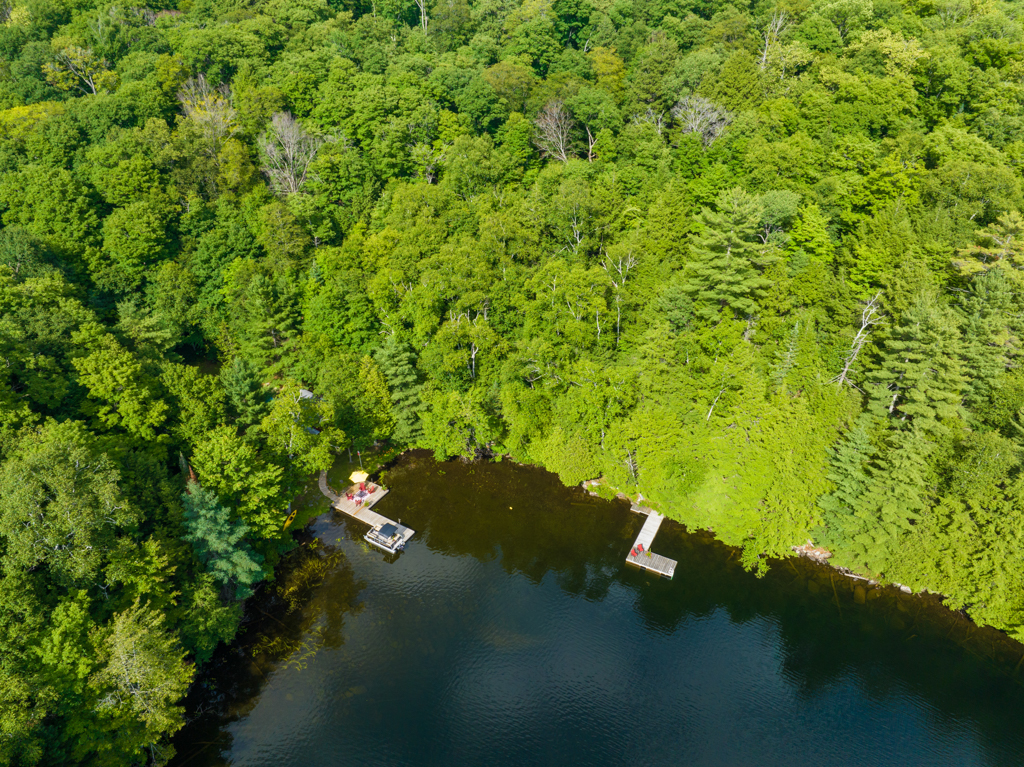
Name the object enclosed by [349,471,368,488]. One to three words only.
umbrella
